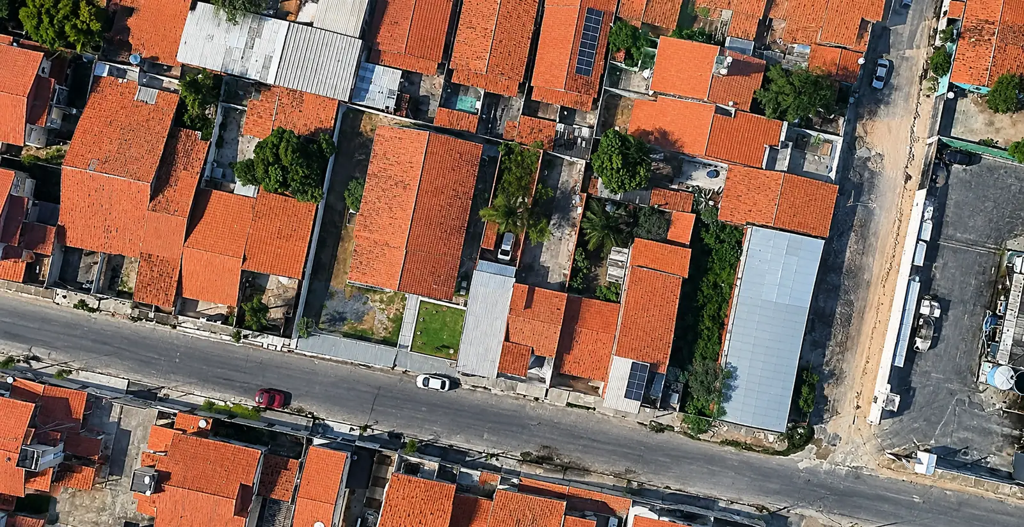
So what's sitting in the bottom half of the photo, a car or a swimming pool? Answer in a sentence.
There is a car in the bottom half of the photo.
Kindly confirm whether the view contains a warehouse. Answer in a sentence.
Yes, I can see a warehouse in this picture.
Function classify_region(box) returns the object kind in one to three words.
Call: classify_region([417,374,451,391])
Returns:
car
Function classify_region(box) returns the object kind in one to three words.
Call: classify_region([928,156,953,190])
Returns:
car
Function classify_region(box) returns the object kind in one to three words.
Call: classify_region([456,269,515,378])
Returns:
shed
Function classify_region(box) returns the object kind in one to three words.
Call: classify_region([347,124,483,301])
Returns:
house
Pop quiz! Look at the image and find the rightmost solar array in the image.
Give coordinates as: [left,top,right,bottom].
[626,364,648,401]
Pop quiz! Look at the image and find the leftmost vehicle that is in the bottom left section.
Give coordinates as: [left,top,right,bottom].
[255,390,286,407]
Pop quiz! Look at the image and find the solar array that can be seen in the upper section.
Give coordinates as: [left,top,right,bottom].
[575,7,603,76]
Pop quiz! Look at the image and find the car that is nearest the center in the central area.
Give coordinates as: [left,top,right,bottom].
[496,229,515,263]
